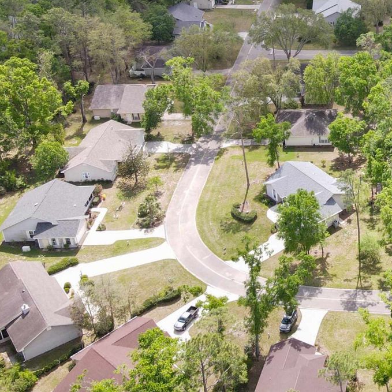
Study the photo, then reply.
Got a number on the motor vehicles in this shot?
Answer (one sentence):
There are 2 motor vehicles in the image.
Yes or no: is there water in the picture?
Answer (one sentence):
No, there is no water in the image.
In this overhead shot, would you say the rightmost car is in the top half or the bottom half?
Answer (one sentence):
You can find the rightmost car in the bottom half.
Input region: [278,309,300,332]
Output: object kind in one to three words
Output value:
car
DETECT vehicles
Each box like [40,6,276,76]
[278,309,300,332]
[171,303,201,331]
